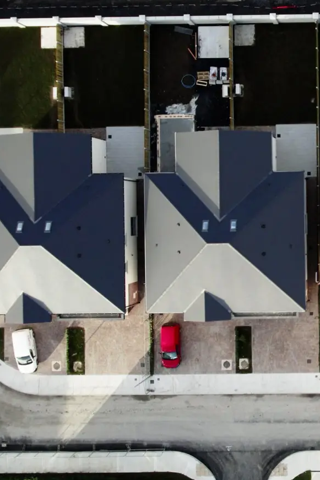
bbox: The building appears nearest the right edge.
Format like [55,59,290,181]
[143,127,309,322]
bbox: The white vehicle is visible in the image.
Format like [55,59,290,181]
[10,326,40,373]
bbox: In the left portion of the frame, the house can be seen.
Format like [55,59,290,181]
[0,129,138,325]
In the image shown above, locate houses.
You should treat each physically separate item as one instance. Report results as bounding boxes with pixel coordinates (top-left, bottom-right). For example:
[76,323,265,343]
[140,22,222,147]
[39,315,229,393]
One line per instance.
[143,127,309,322]
[0,129,138,325]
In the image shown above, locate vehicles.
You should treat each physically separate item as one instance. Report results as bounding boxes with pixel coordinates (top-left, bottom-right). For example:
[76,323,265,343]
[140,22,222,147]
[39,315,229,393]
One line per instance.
[10,326,40,373]
[158,322,182,367]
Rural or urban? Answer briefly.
urban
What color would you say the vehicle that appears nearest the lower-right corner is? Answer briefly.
red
